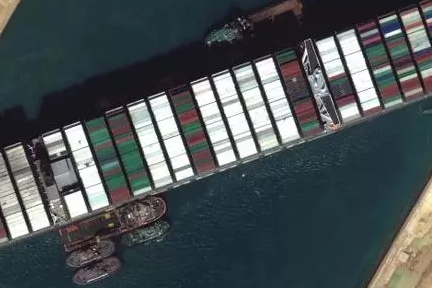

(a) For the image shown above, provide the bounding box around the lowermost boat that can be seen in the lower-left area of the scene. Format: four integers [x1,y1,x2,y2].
[71,258,122,284]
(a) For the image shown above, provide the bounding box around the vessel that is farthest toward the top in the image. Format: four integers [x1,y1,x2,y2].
[246,0,307,25]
